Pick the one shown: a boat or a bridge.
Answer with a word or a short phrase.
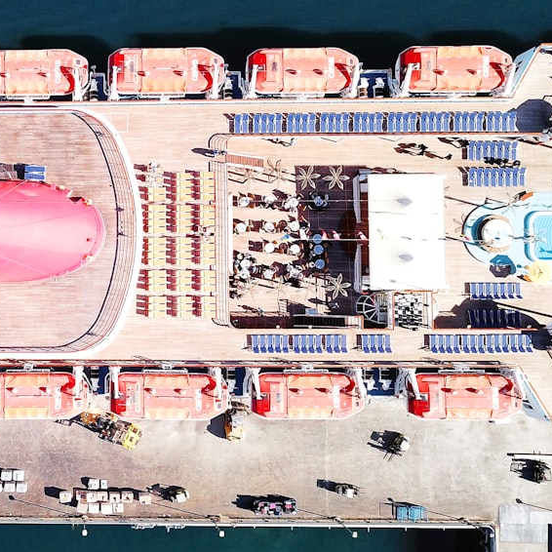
boat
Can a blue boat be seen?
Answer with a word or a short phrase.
No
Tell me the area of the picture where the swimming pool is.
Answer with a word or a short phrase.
right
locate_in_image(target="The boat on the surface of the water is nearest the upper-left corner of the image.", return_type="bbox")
[0,47,89,99]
